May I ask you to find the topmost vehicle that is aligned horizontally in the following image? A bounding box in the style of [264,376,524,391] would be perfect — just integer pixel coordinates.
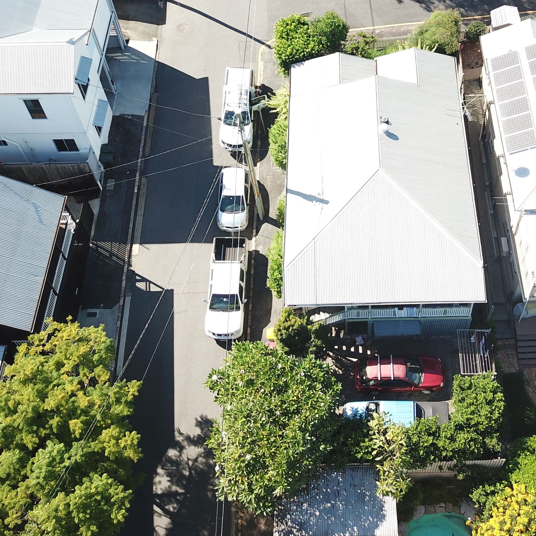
[354,351,444,395]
